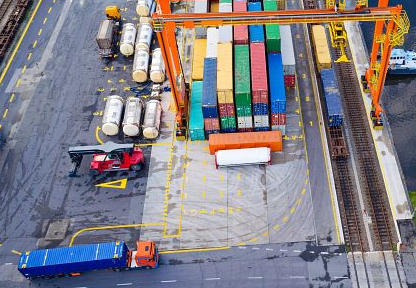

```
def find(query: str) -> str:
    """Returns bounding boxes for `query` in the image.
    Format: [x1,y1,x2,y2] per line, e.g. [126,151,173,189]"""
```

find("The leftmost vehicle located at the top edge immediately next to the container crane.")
[101,9,122,53]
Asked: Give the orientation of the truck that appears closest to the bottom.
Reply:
from side to side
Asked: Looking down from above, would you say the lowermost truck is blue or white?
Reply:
blue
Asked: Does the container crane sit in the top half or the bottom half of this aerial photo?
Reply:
top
